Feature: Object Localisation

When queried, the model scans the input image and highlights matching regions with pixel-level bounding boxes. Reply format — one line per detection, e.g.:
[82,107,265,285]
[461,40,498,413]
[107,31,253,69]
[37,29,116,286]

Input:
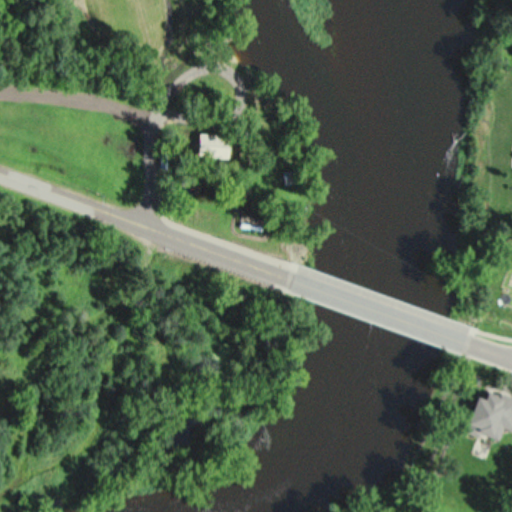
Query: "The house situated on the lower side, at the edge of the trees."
[470,386,512,443]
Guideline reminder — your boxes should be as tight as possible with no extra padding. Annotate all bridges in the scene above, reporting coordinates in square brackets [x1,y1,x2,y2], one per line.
[283,261,477,357]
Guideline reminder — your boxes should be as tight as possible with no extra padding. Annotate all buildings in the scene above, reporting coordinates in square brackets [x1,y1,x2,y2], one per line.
[470,386,512,443]
[199,132,232,160]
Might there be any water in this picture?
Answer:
Yes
